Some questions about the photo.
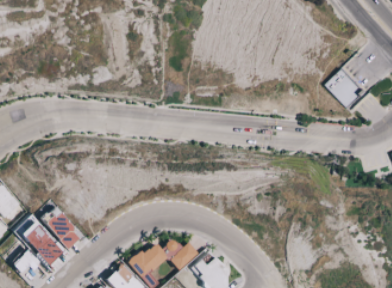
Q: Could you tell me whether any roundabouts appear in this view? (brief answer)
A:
No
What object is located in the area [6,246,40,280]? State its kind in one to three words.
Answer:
house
